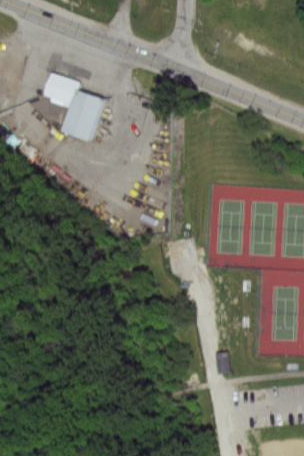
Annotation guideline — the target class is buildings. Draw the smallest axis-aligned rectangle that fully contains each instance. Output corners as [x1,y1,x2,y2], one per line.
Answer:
[43,72,81,108]
[62,90,106,142]
[218,351,230,374]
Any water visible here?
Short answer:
No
